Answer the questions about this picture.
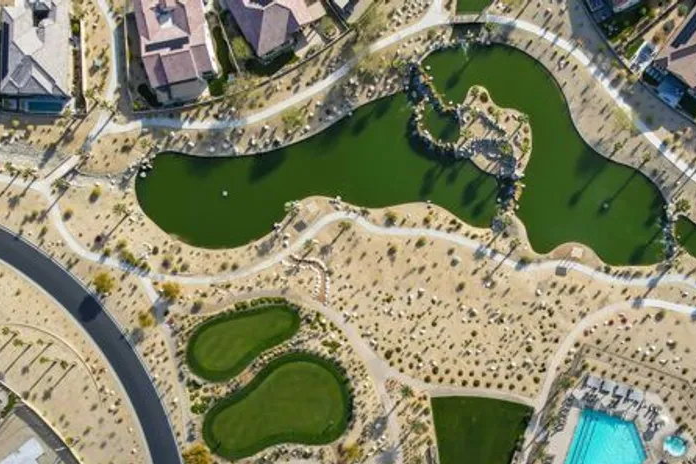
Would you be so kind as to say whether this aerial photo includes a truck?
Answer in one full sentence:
No, no truck is visible in the scene.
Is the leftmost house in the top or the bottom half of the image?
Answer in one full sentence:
The leftmost house is in the top half of the image.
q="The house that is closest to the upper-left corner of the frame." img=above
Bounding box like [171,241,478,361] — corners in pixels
[1,0,76,99]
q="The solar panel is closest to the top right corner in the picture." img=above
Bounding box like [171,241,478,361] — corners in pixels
[671,13,696,47]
